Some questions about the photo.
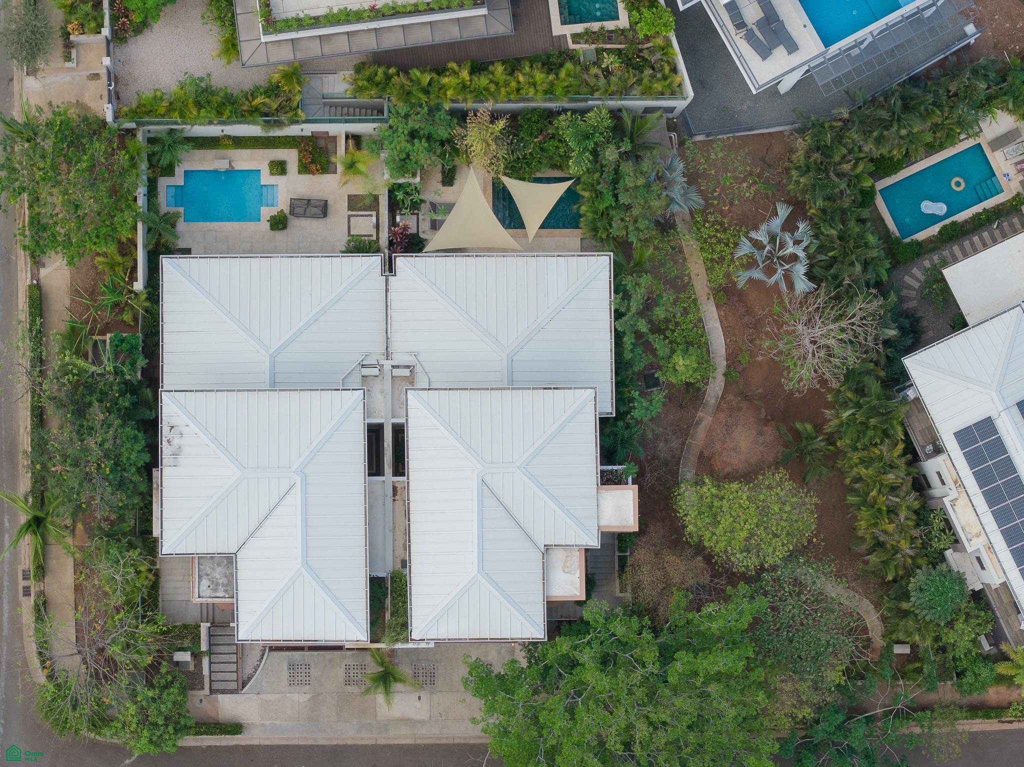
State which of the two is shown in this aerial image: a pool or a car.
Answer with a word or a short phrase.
pool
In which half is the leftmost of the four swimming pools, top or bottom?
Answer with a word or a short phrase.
top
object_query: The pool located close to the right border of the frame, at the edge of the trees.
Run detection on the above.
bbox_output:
[870,134,1012,240]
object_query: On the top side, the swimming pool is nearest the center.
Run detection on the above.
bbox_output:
[484,168,589,238]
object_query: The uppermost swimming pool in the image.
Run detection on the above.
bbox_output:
[550,0,628,35]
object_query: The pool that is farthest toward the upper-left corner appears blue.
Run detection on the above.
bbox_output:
[158,162,287,231]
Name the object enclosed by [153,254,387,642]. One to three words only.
house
